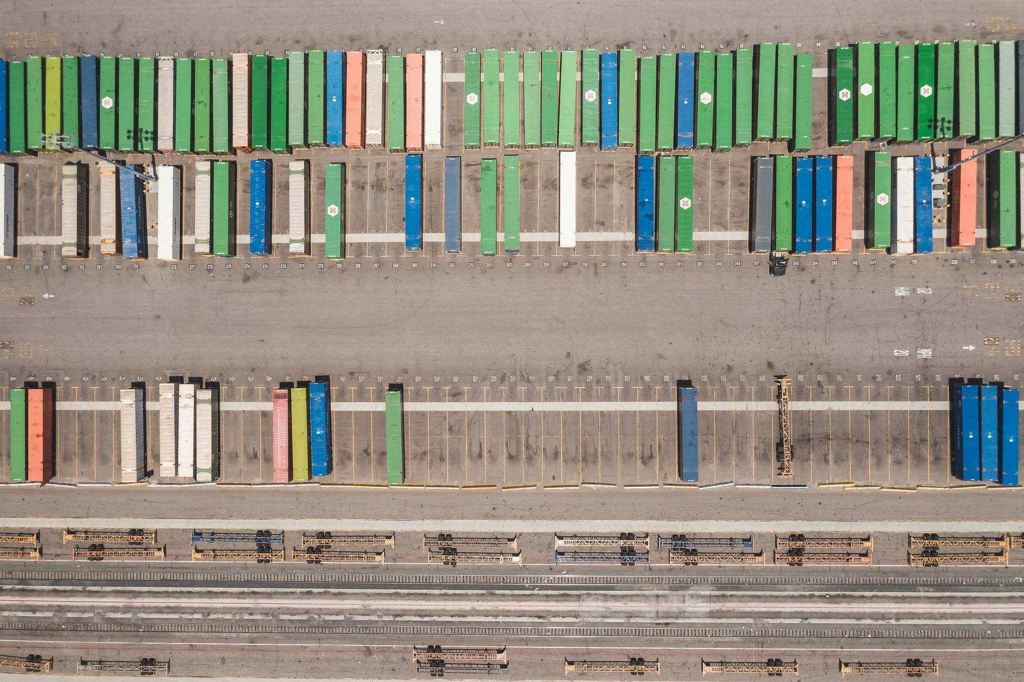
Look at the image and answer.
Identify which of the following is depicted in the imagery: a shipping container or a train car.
shipping container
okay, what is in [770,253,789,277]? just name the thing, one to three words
vehicle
